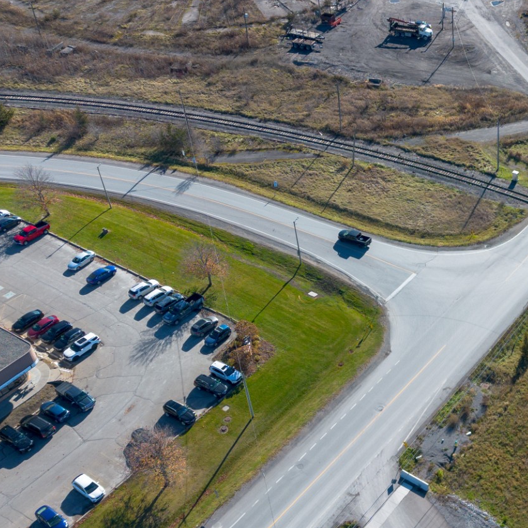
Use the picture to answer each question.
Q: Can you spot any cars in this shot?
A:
Yes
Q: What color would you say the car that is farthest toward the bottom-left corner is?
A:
blue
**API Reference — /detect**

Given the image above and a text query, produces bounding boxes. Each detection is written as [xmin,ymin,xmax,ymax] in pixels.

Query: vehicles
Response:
[189,368,231,397]
[158,397,199,427]
[67,469,107,507]
[125,278,164,302]
[0,214,25,232]
[65,250,99,272]
[151,292,187,316]
[335,231,375,250]
[60,328,103,362]
[206,355,244,387]
[35,400,74,425]
[50,323,87,354]
[161,293,206,324]
[52,377,97,411]
[15,411,58,441]
[35,314,78,345]
[185,315,225,338]
[139,284,179,309]
[11,222,53,246]
[25,314,60,341]
[8,308,50,334]
[202,322,237,348]
[84,265,120,286]
[388,18,431,39]
[29,501,71,528]
[0,207,14,217]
